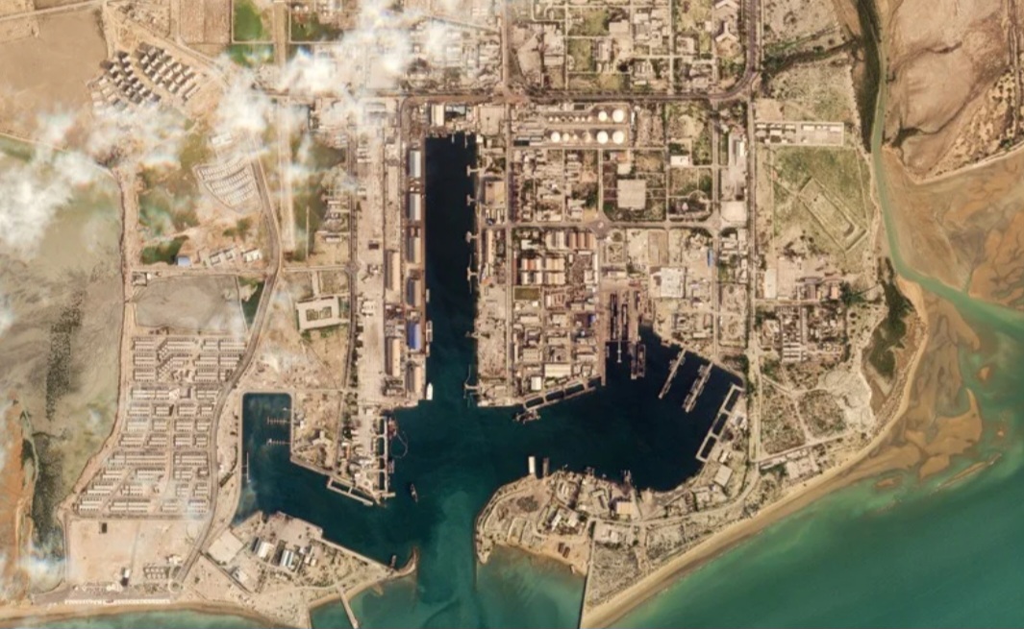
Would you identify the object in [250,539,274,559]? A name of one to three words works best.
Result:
hangar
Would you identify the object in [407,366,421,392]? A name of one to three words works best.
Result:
building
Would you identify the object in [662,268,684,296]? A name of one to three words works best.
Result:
building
